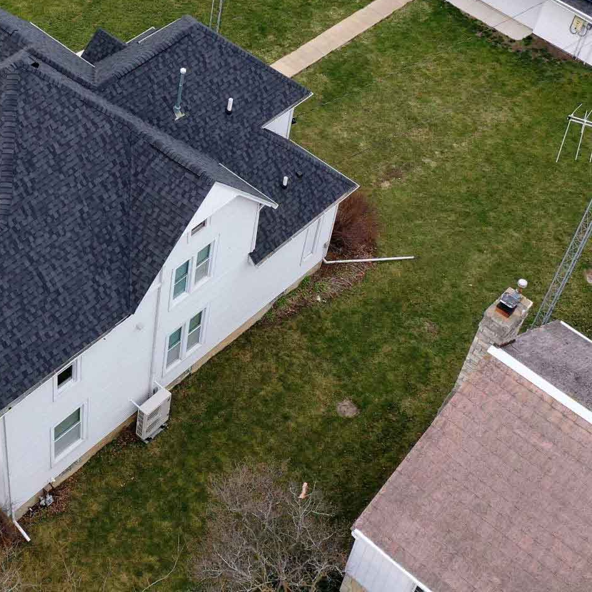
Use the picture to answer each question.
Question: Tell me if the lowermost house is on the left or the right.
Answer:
right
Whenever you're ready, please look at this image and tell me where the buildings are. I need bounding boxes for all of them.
[485,0,592,61]
[345,283,592,592]
[0,6,414,542]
